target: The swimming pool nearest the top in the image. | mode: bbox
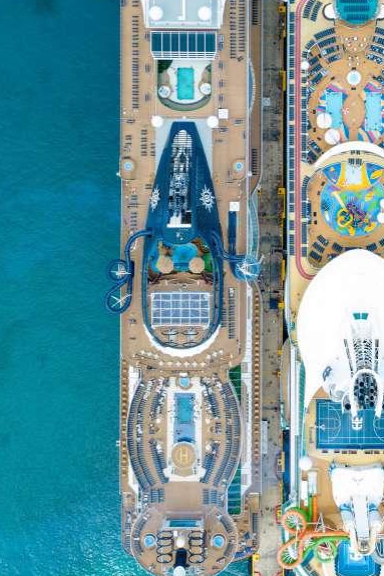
[176,66,194,100]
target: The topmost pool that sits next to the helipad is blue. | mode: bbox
[173,391,194,444]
